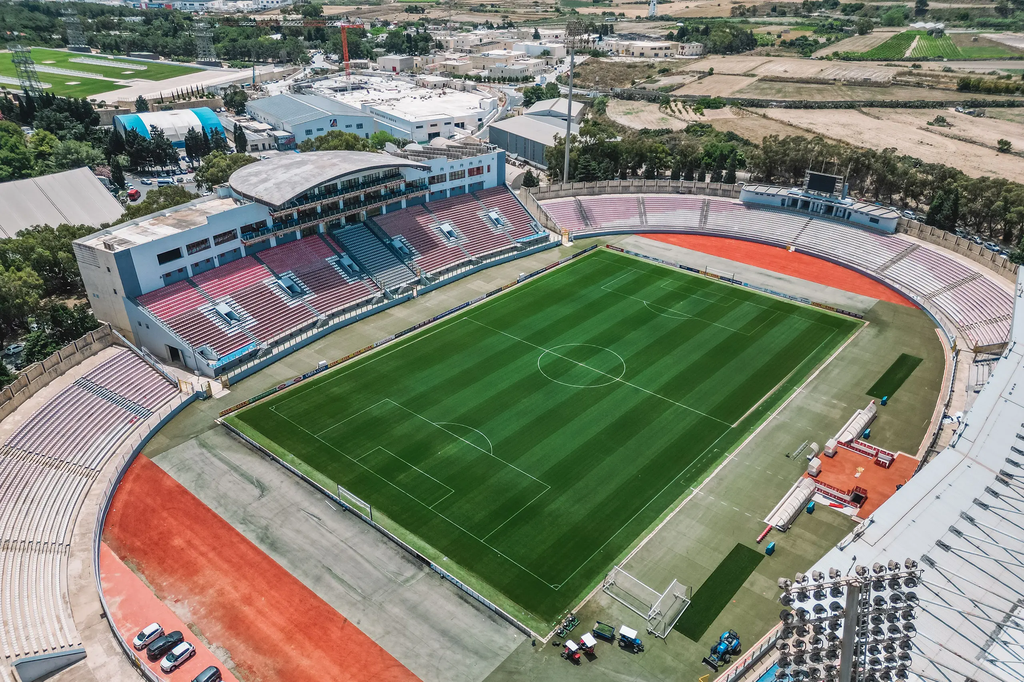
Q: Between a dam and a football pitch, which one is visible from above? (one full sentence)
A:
Of the two, only a football pitch appears.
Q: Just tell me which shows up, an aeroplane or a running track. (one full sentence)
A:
There is a running track in the scene.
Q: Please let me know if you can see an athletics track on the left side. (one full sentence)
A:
Yes, an athletics track shows up on the left side.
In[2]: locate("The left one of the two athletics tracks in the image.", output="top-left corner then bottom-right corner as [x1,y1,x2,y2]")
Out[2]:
[100,450,418,682]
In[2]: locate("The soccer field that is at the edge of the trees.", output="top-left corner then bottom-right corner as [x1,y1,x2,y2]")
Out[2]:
[237,250,859,625]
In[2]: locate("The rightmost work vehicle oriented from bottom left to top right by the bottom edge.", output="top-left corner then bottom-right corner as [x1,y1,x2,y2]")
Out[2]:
[697,628,742,680]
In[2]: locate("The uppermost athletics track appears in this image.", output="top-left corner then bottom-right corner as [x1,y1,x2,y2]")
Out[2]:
[637,234,922,310]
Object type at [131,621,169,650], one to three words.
car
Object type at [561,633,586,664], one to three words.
work vehicle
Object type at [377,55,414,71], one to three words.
building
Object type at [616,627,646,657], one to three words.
work vehicle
